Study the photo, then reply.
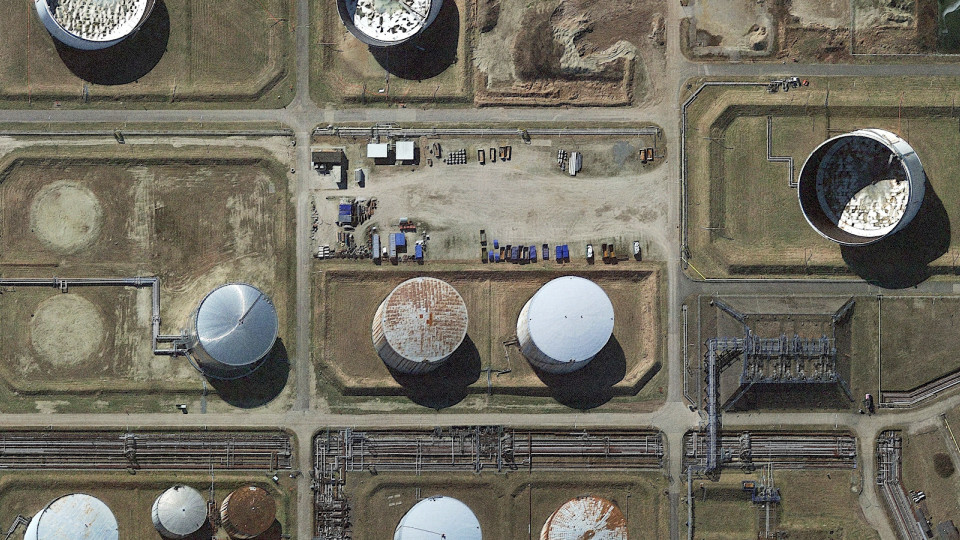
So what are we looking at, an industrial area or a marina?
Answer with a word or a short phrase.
industrial area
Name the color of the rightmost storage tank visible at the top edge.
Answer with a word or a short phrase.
white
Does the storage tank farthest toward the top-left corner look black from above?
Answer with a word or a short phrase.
No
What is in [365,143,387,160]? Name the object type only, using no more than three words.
shed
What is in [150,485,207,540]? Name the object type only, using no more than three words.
storage tank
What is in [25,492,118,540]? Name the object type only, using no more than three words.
storage tank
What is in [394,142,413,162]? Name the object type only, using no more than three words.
shed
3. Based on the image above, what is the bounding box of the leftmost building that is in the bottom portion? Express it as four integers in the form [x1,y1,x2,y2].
[742,315,834,383]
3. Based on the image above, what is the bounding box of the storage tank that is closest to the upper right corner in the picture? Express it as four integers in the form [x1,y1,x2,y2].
[796,127,923,255]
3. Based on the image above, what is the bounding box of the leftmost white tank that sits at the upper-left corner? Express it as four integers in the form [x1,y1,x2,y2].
[35,0,154,52]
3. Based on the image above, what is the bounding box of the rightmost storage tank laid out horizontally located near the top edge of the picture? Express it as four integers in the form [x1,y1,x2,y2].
[337,0,446,48]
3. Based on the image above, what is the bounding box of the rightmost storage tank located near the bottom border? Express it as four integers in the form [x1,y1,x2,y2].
[538,494,630,540]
